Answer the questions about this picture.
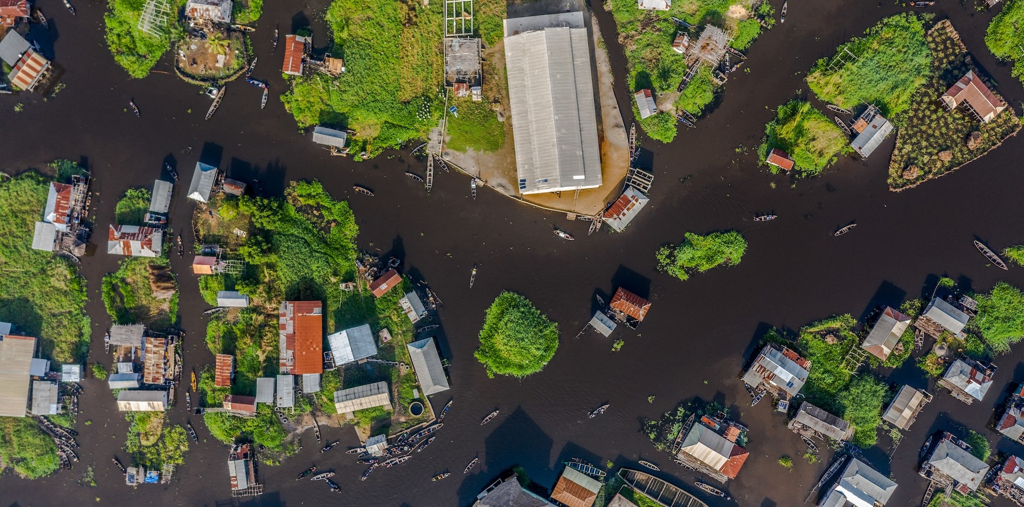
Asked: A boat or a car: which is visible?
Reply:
boat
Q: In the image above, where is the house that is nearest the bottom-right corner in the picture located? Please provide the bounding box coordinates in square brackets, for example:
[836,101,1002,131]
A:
[989,453,1024,505]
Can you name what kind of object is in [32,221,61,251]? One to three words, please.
shed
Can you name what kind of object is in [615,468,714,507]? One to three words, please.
ship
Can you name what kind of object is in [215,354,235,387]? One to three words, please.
house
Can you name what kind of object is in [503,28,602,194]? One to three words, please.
building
